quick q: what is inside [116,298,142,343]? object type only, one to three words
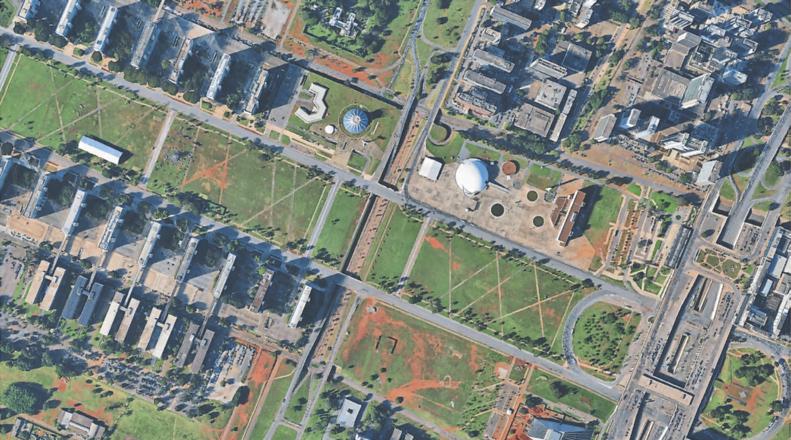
building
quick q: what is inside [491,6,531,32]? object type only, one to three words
building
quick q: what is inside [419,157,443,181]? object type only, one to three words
tent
